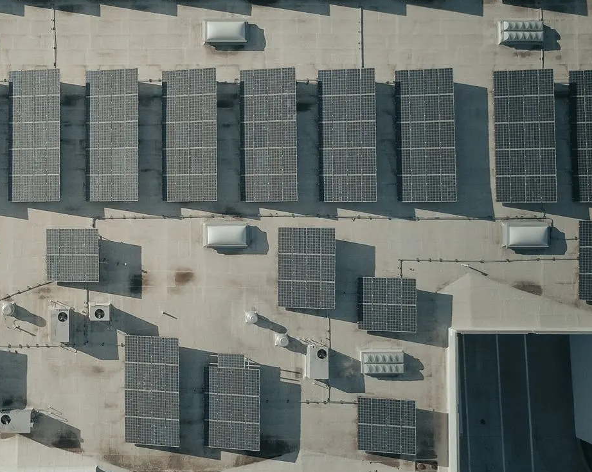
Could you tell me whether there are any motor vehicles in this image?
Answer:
No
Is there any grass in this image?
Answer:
No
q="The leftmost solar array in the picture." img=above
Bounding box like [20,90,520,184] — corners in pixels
[8,68,60,202]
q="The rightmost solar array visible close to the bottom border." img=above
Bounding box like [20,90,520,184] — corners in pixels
[358,397,416,455]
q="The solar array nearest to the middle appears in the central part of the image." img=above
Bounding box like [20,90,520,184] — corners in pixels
[278,228,335,309]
